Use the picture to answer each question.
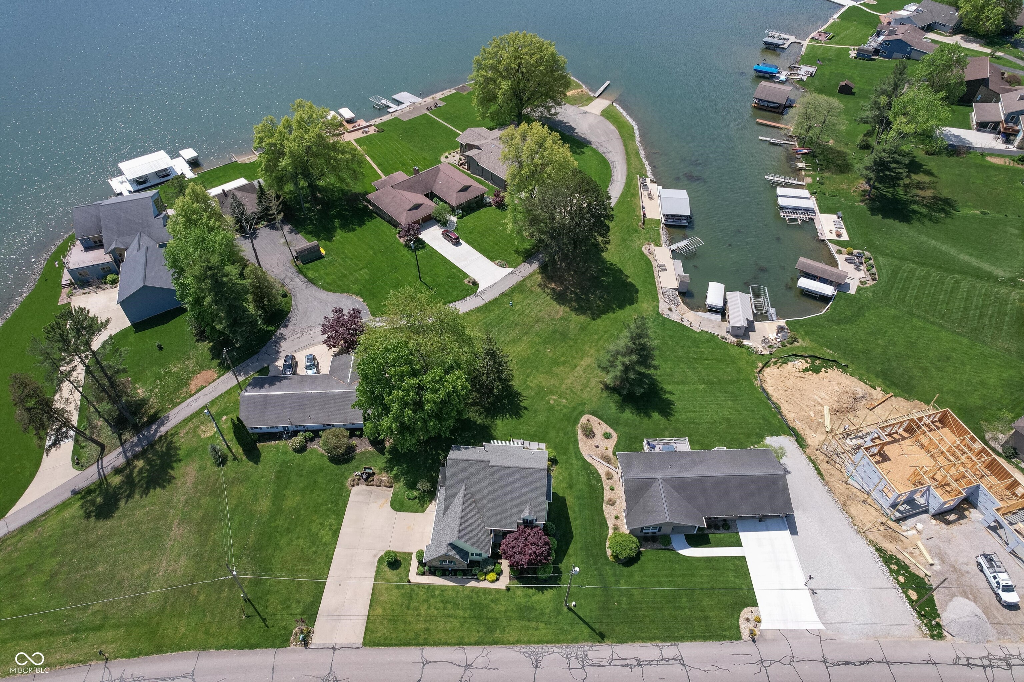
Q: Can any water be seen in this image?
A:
Yes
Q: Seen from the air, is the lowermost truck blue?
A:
No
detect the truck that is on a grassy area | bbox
[977,550,1021,605]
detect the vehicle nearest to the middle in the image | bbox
[440,228,461,243]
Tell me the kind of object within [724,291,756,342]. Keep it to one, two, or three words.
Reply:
building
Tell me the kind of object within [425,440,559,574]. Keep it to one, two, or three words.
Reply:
house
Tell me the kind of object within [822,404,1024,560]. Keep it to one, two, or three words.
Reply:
house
